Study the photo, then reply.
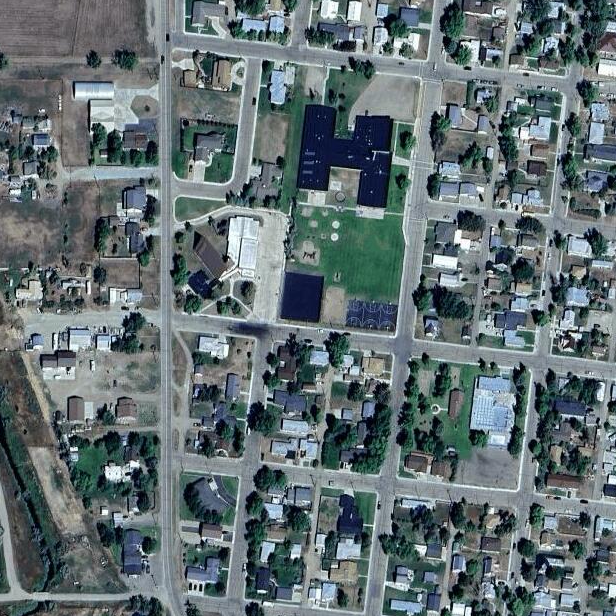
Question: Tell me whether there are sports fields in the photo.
Yes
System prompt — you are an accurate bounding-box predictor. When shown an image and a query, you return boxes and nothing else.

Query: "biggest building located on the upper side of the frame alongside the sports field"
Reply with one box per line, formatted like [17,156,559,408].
[298,103,394,210]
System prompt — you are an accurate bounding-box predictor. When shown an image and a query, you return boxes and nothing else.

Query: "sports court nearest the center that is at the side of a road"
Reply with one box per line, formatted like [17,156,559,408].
[281,272,324,321]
